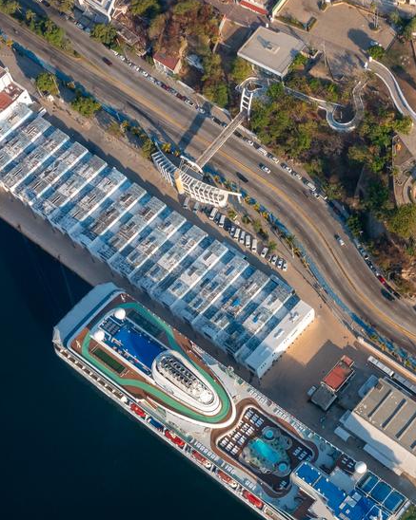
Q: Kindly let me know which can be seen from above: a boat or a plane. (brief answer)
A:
boat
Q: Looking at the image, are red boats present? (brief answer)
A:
Yes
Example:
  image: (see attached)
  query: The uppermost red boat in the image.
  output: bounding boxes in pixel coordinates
[126,400,145,416]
